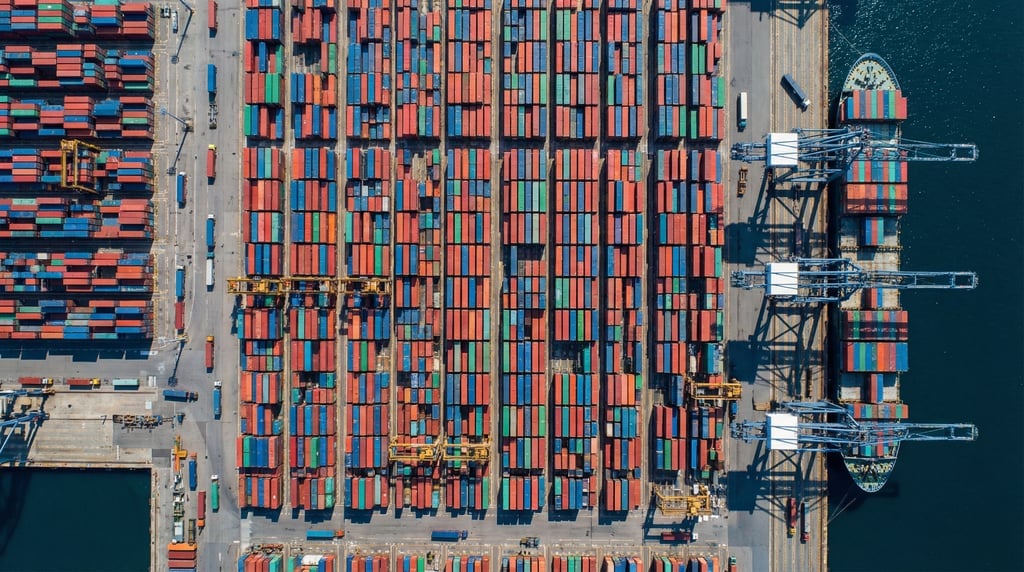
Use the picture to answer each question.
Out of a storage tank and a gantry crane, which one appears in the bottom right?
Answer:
gantry crane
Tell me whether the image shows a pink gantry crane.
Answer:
No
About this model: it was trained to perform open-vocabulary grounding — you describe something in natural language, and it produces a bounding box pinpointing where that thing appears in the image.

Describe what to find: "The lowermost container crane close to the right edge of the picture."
[730,391,977,453]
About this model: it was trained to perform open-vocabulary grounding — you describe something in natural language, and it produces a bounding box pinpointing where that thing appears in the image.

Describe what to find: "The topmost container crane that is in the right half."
[730,131,977,191]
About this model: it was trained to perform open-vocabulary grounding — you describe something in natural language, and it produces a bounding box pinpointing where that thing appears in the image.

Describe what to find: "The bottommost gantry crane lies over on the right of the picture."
[655,483,712,513]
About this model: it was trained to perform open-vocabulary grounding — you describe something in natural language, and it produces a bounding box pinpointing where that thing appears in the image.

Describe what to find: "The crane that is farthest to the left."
[0,388,52,434]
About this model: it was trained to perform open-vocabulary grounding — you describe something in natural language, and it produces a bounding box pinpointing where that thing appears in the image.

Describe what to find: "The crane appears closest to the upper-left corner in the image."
[61,140,101,193]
